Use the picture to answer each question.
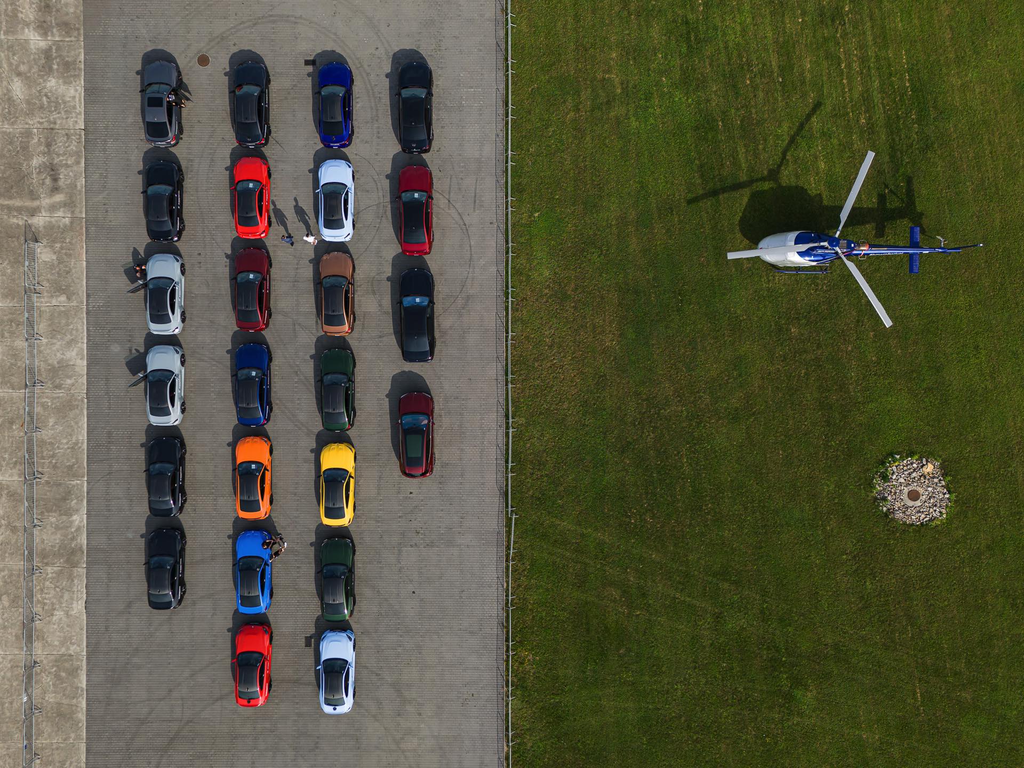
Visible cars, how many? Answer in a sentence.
In total, 24 cars can be seen.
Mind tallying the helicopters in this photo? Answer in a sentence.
The photo contains exactly 1 helicopter.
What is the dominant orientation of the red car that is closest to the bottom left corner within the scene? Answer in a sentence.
From this overhead view, the red car that is closest to the bottom left corner appears to run up and down.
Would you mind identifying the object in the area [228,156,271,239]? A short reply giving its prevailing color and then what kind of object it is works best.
red car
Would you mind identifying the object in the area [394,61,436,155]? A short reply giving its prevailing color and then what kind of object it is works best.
black car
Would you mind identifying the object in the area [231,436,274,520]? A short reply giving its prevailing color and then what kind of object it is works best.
orange car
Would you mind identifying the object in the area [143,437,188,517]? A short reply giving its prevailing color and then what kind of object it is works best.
black car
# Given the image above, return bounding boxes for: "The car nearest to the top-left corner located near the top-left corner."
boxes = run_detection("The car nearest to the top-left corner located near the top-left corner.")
[138,60,195,149]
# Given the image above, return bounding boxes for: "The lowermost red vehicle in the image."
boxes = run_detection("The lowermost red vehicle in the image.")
[230,623,273,709]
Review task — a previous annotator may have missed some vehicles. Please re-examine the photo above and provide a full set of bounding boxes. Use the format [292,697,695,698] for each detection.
[123,254,186,334]
[316,347,357,431]
[138,60,195,149]
[314,159,355,242]
[316,537,357,622]
[315,629,356,716]
[395,392,437,479]
[230,343,273,427]
[396,268,438,363]
[143,437,188,517]
[394,61,436,155]
[228,156,271,239]
[316,442,357,527]
[124,345,186,425]
[142,528,187,610]
[230,623,273,709]
[395,165,436,256]
[229,61,272,149]
[313,61,355,149]
[231,529,274,614]
[231,436,274,520]
[140,160,185,243]
[229,248,272,332]
[315,252,356,336]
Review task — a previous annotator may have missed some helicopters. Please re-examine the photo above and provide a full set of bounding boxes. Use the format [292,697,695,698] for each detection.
[730,151,983,328]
